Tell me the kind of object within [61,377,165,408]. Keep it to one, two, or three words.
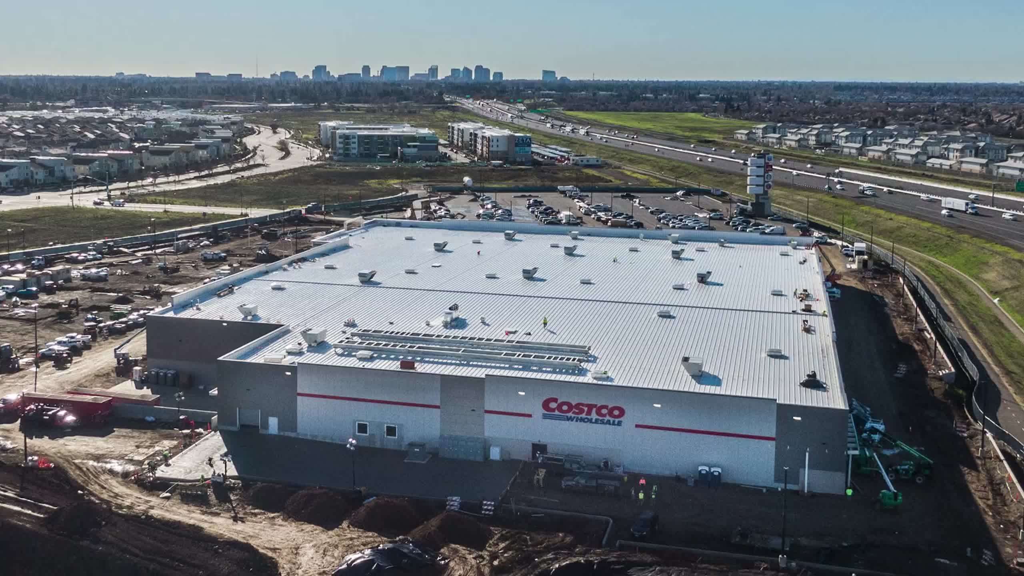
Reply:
trailer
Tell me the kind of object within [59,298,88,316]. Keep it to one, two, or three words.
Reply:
work vehicle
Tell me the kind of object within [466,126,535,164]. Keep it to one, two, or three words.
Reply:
building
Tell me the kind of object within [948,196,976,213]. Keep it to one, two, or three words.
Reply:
vehicle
